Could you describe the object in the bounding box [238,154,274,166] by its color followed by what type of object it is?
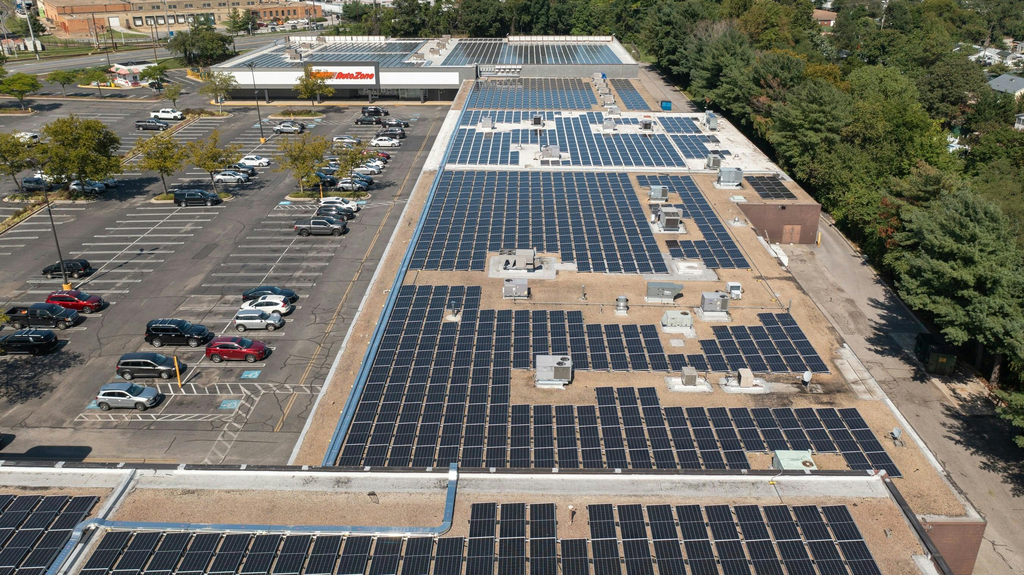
white vehicle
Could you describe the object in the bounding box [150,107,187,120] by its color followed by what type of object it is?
white vehicle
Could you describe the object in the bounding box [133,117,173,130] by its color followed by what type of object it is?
gray vehicle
